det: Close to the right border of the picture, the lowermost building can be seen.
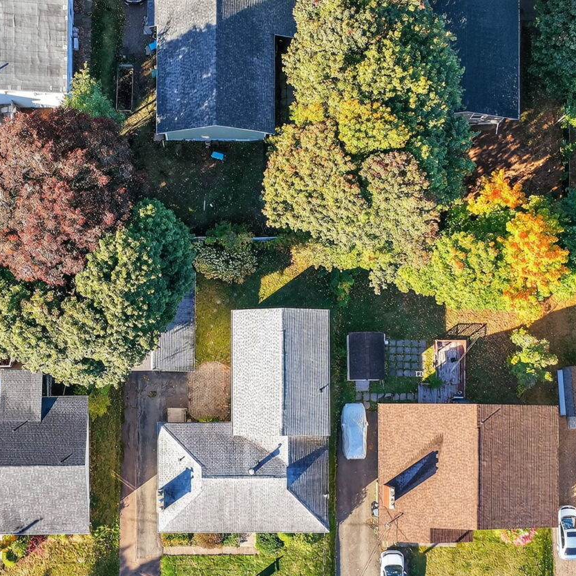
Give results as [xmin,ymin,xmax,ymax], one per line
[371,404,559,546]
